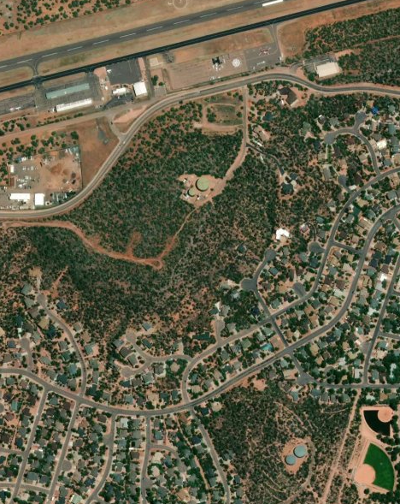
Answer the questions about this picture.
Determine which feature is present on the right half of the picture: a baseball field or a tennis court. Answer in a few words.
baseball field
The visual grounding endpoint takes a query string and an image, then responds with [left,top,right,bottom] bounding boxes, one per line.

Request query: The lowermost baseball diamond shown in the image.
[354,440,397,493]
